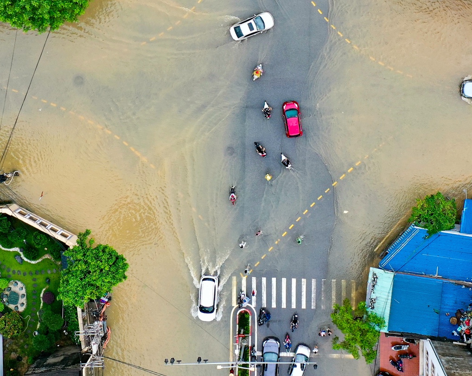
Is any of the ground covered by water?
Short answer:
Yes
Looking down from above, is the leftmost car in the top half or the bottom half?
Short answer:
bottom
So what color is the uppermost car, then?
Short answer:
white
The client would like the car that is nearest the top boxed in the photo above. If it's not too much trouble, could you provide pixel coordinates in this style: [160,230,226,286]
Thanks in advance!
[228,10,276,41]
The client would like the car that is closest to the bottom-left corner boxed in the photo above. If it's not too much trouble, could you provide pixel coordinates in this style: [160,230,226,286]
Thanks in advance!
[197,273,219,320]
